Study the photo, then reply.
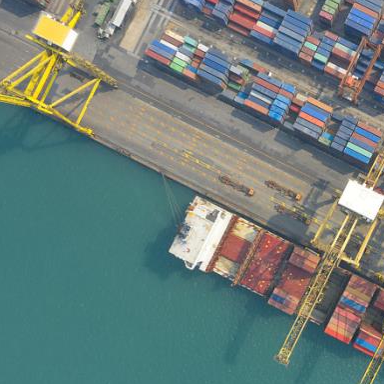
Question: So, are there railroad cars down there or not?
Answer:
No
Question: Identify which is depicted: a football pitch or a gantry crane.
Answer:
gantry crane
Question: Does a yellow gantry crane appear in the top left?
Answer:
Yes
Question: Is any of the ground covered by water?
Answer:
Yes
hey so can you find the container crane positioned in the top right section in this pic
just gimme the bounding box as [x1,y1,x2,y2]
[333,36,384,113]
